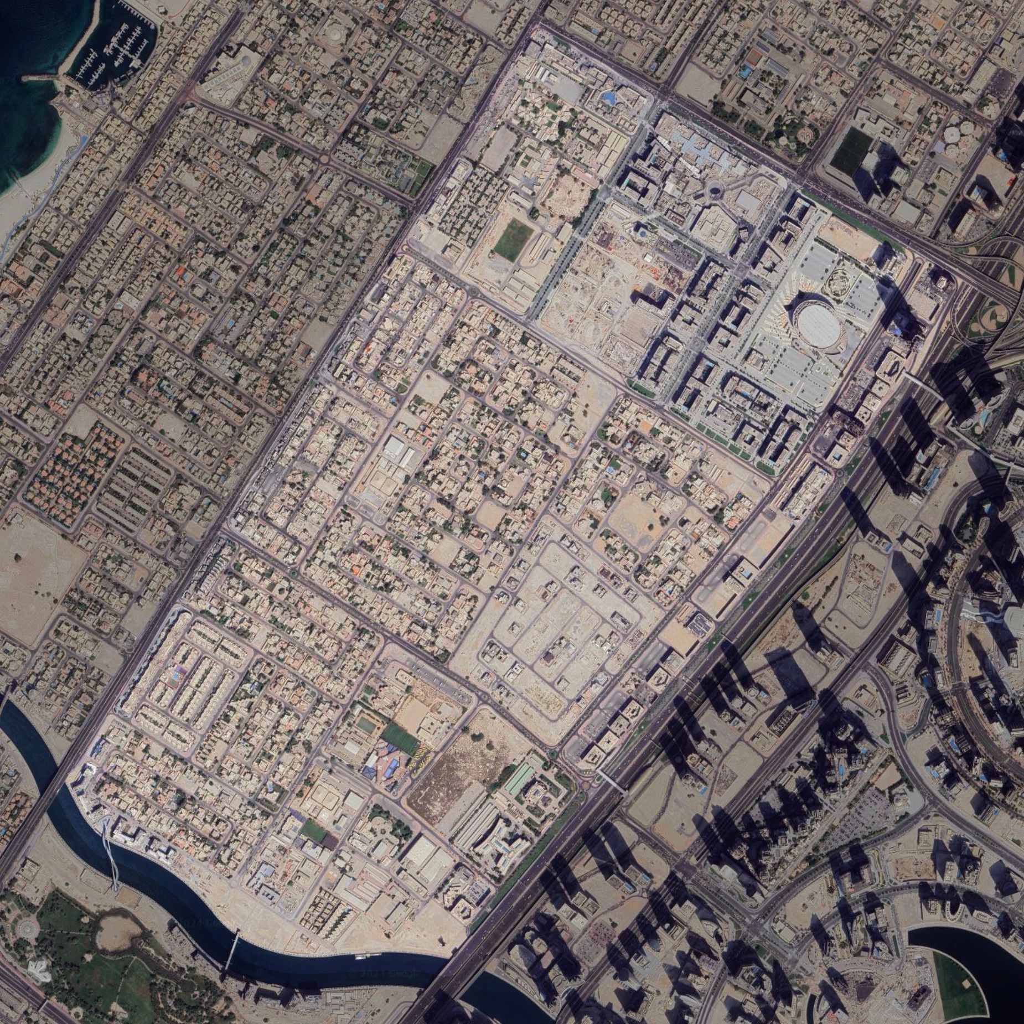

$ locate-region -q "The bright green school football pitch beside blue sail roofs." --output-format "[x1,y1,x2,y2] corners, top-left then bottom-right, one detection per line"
[381,722,418,755]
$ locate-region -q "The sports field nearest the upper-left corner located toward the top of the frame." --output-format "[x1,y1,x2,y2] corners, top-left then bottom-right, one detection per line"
[481,125,516,171]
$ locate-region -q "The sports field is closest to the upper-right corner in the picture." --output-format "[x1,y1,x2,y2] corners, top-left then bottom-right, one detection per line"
[830,127,873,177]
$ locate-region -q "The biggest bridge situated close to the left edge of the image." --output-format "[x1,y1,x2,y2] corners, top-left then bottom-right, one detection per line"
[16,726,89,835]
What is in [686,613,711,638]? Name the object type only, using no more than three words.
building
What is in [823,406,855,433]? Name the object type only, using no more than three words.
building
